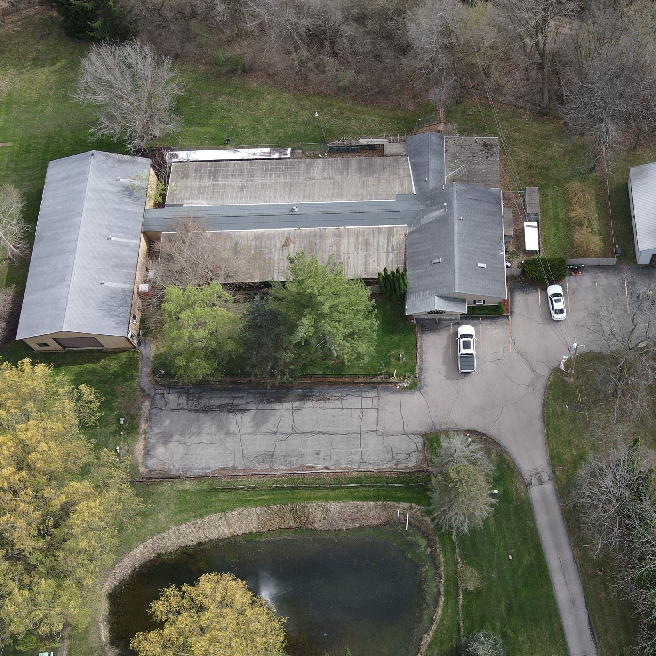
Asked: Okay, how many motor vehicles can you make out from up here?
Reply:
two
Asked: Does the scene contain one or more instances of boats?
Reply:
No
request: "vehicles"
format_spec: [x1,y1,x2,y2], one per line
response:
[545,287,567,323]
[455,325,479,377]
